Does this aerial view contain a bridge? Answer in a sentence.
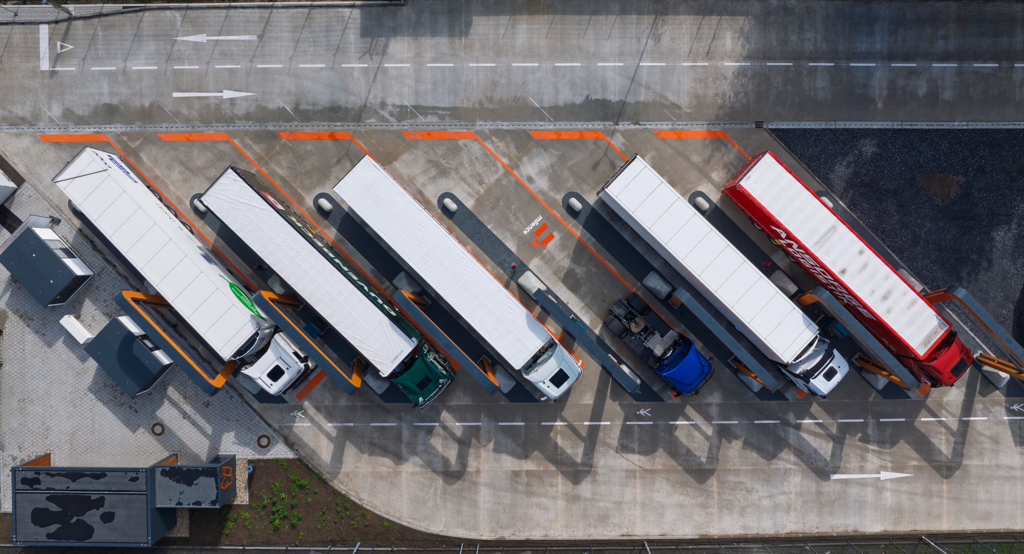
No, I can't see a single bridge in this photo.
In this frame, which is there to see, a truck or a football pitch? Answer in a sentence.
This aerial view contains a truck.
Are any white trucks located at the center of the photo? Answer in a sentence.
Yes, you'll find a white truck at the center of the photo.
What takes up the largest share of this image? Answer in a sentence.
The largest share of the image is taken up by paved ground.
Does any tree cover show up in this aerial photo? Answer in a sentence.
No, the scene doesn't show any tree cover.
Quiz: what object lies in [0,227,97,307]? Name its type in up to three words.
shed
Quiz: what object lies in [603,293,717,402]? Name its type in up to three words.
truck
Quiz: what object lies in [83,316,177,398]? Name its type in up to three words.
shed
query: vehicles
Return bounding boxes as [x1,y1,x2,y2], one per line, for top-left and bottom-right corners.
[603,293,717,402]
[719,150,977,393]
[595,156,854,403]
[333,154,589,407]
[53,146,318,401]
[198,165,456,414]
